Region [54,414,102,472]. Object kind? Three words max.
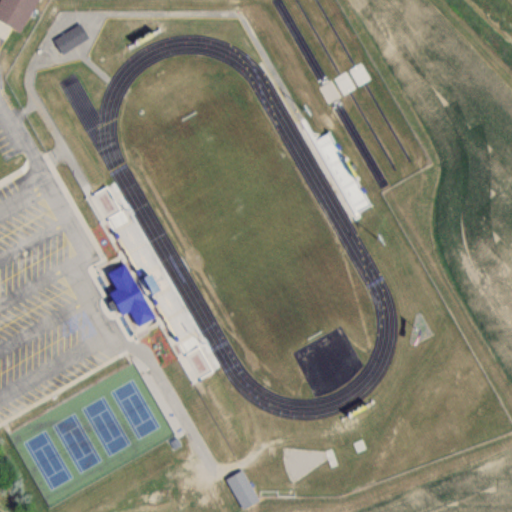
tennis court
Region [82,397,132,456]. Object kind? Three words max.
tennis court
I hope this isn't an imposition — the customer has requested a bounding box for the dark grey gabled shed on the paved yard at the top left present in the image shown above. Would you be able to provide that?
[54,23,87,53]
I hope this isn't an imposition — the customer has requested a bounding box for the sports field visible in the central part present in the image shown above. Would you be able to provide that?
[120,54,378,400]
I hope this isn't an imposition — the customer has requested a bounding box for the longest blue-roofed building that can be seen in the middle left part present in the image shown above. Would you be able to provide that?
[106,264,153,327]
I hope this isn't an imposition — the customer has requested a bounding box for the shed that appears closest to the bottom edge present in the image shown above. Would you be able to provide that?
[226,472,259,510]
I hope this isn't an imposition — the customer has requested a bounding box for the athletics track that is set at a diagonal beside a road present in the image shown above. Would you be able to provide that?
[60,34,398,420]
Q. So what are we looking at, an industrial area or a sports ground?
sports ground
